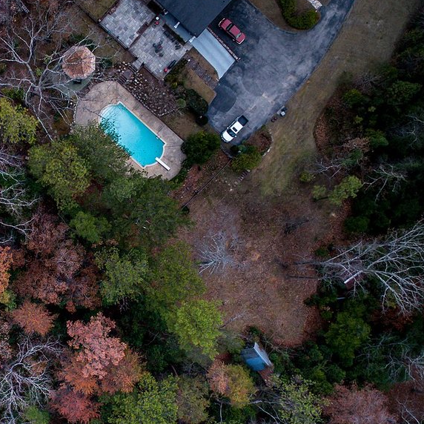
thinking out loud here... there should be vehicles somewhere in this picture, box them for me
[220,114,250,145]
[217,17,246,44]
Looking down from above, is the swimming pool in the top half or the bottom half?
top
